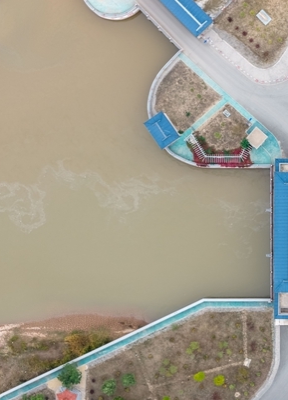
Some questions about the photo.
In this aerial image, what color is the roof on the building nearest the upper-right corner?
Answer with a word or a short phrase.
blue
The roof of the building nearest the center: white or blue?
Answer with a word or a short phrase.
blue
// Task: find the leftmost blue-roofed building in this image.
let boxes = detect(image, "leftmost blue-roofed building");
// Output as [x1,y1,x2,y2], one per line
[144,111,183,149]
